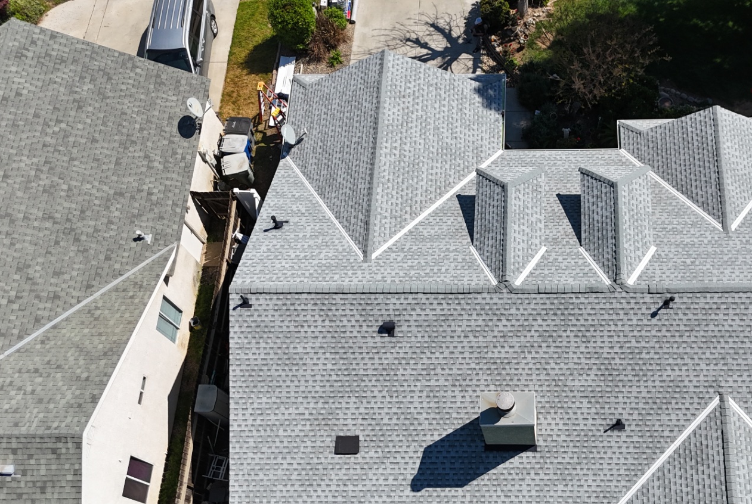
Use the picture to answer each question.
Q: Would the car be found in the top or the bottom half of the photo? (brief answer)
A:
top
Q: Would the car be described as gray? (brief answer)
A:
Yes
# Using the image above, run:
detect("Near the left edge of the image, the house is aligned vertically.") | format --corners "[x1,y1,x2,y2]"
[0,18,222,504]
